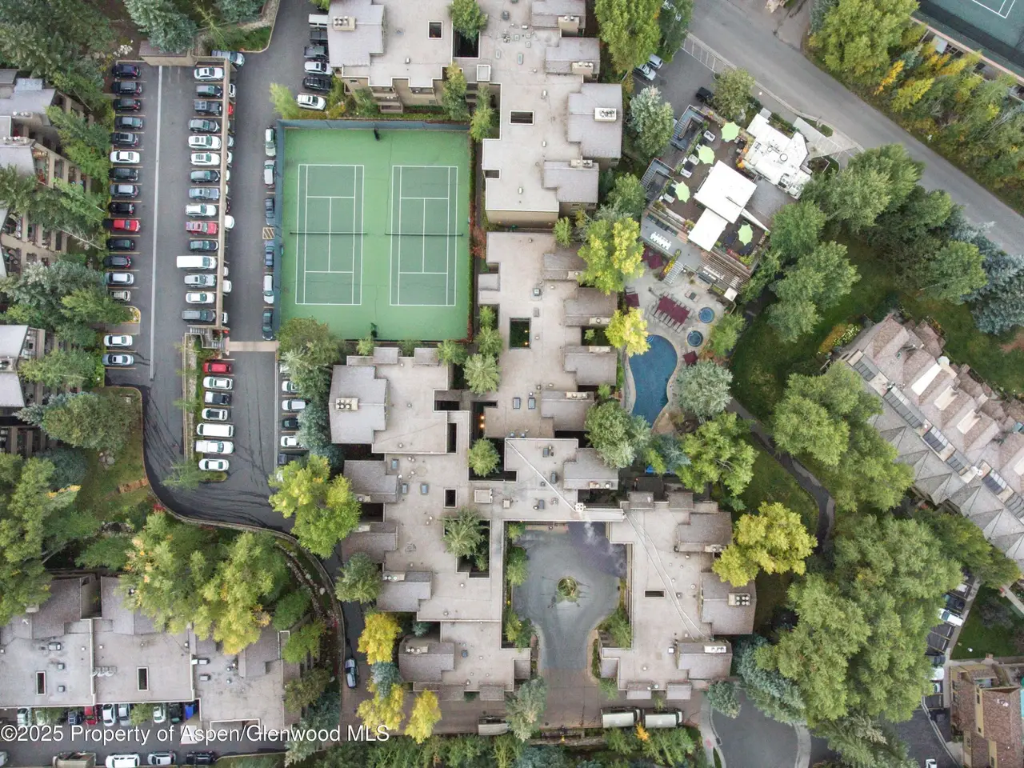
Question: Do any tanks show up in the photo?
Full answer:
No, this view has no tank in it.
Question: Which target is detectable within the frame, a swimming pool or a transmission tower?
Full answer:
The image shows a swimming pool.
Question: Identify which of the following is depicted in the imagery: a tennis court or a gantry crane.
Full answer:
Of the two, only a tennis court appears.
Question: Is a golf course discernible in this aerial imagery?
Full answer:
No, I can't see a single golf course in this photo.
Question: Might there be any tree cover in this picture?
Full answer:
Yes, tree cover can be seen from above here.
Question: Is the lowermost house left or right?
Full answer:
The lowermost house appears in the right half of the scene.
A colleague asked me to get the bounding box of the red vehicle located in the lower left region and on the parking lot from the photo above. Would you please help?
[84,705,100,728]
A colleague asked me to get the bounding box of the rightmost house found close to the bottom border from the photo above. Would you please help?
[945,655,1022,768]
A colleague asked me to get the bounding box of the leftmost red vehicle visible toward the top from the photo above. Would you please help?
[104,217,142,233]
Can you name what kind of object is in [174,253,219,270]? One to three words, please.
vehicle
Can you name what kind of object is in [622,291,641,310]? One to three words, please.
umbrella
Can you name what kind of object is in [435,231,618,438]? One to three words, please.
building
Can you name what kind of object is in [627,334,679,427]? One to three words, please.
swimming pool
